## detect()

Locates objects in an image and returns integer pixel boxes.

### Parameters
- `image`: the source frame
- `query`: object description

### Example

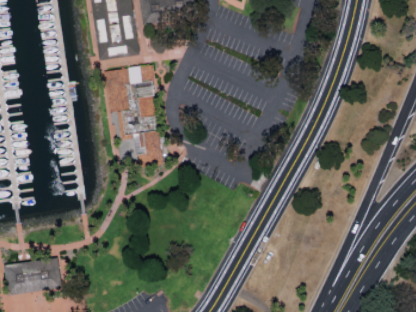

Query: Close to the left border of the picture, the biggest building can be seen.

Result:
[4,258,62,296]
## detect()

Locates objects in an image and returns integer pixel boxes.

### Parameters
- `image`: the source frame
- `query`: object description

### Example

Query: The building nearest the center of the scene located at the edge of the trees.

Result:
[104,64,166,166]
